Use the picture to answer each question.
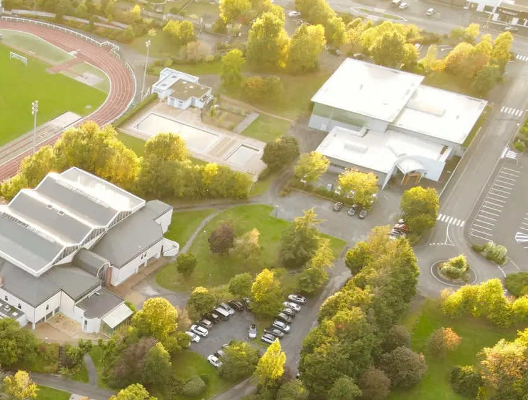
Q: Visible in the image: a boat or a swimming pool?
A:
swimming pool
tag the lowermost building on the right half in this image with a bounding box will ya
[300,59,487,189]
